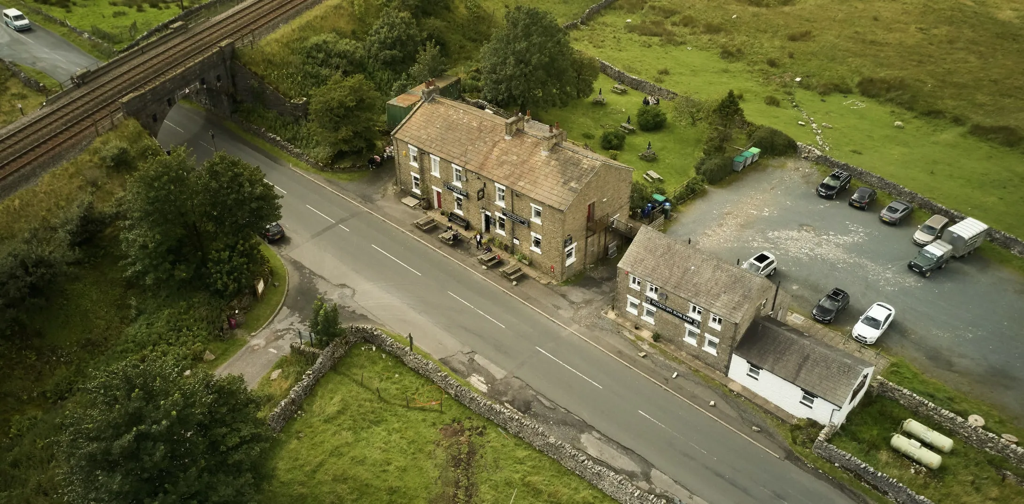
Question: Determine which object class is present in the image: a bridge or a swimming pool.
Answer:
bridge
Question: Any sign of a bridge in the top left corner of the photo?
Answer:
Yes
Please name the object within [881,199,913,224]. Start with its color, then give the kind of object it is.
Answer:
gray car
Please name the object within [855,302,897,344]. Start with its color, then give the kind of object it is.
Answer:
white car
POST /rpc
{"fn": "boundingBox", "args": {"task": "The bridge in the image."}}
[47,10,313,175]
